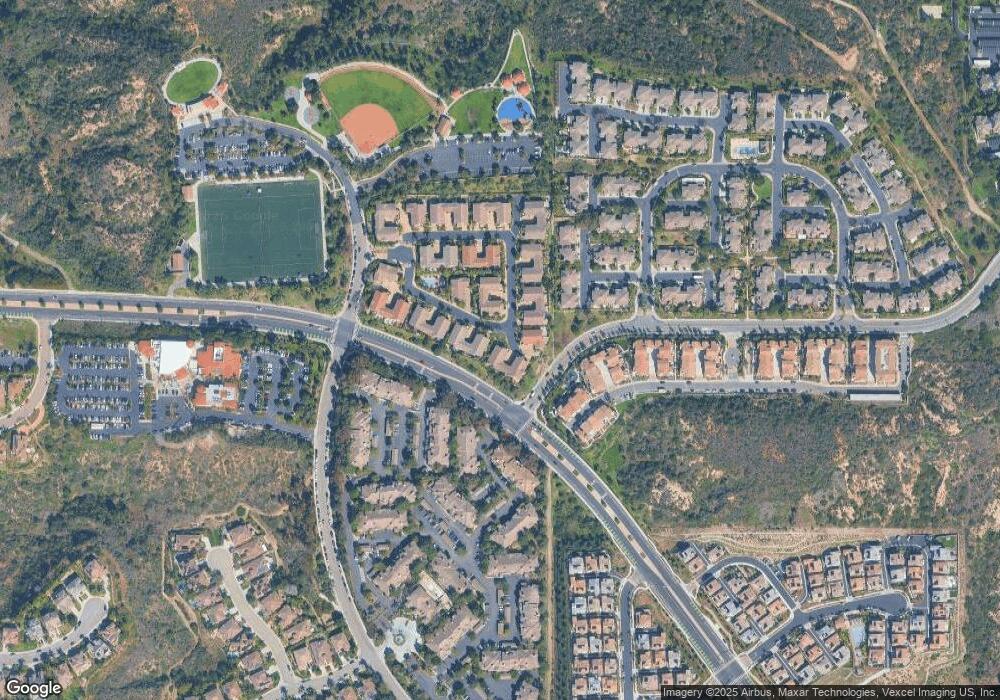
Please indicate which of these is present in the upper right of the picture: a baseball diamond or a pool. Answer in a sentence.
What appears in the upper right of the picture is a pool.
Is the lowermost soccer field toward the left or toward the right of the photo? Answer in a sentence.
The lowermost soccer field appears in the left half of the scene.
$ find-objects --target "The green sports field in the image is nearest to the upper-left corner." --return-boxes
[162,57,223,108]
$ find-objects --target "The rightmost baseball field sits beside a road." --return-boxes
[319,62,447,158]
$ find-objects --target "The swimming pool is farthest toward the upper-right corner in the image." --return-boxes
[730,138,760,158]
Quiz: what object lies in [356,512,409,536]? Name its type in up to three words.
building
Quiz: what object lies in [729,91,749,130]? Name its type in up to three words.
building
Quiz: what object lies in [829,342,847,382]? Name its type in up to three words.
house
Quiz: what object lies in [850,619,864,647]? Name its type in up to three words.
swimming pool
